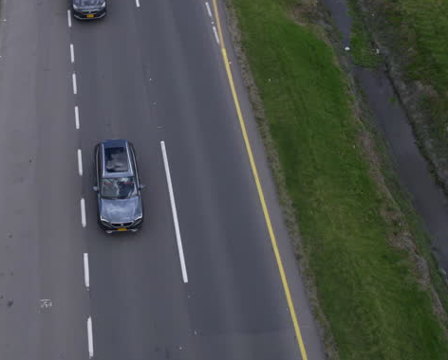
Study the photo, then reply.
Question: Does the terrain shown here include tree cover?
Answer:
No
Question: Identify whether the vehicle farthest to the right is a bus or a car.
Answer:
car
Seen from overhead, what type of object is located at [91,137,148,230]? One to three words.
car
